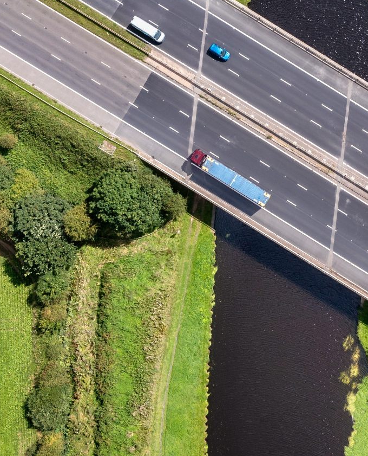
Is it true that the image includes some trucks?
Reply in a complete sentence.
Yes, a truck can be made out from above.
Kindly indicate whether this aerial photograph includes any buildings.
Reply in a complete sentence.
No, the photo shows no building.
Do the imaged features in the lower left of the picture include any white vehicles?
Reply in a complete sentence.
No, I can find no white vehicle in the lower left of the picture.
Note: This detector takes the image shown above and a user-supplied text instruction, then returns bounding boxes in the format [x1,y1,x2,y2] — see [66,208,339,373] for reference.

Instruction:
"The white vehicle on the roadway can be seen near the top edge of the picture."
[130,15,166,43]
